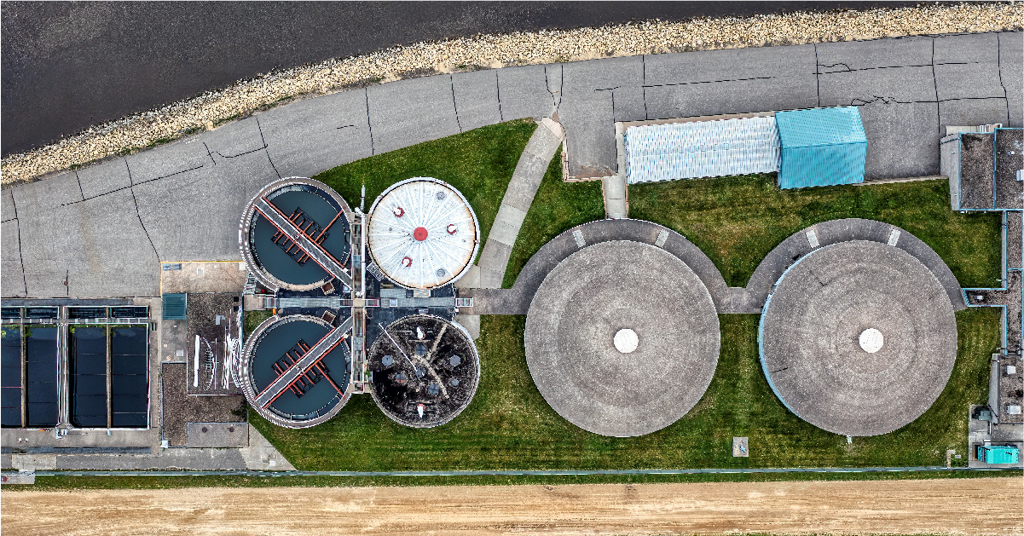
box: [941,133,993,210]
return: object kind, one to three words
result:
building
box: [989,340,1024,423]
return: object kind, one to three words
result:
building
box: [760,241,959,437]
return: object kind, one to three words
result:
storage tank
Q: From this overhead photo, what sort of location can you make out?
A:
industrial area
